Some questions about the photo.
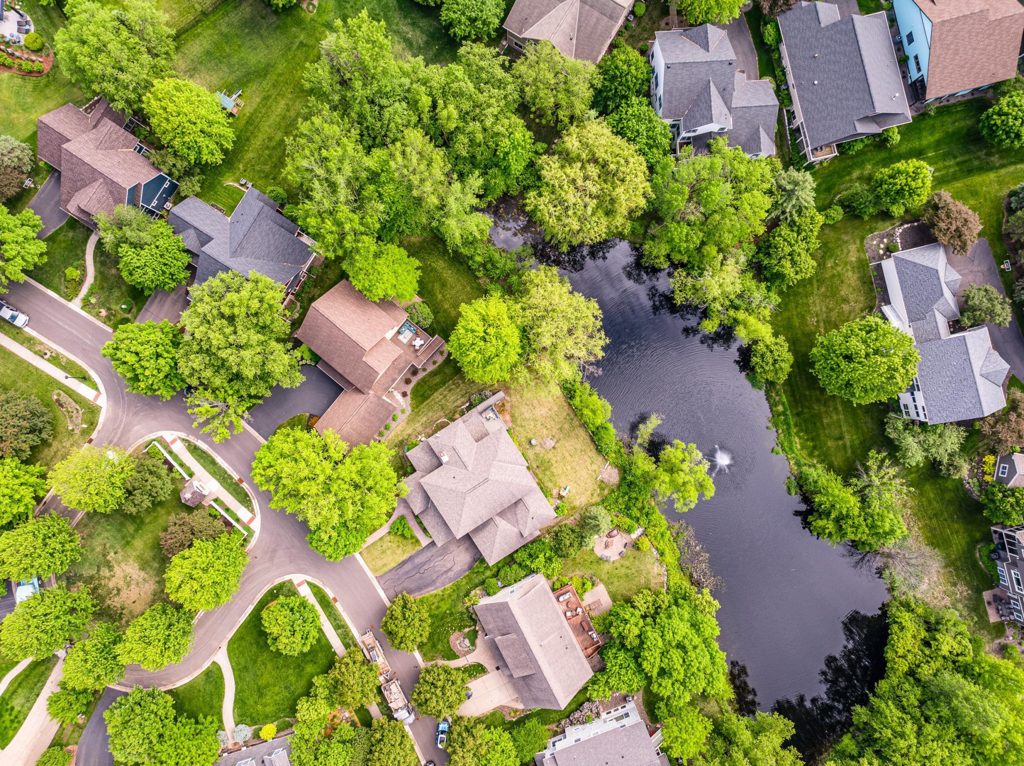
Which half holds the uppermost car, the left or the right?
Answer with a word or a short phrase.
left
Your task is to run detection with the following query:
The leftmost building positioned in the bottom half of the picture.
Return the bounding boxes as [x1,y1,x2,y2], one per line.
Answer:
[181,476,218,508]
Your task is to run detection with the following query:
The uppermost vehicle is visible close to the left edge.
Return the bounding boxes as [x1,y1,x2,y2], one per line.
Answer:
[0,300,26,326]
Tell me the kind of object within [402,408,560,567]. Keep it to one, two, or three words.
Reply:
house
